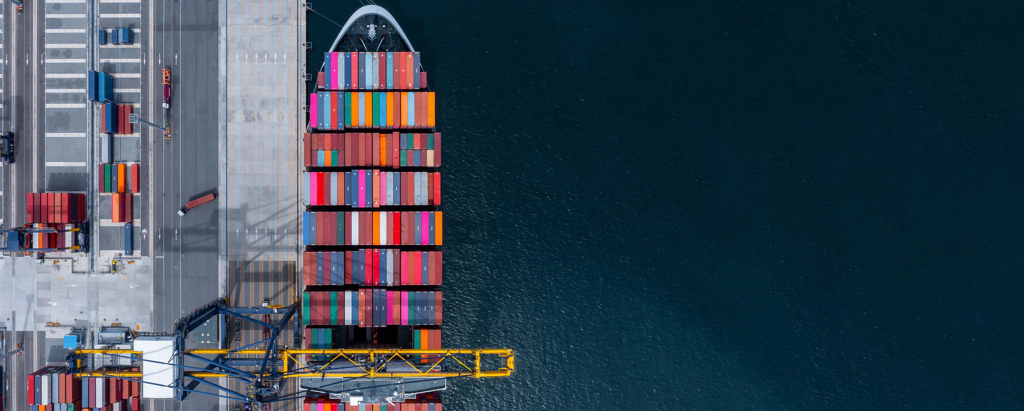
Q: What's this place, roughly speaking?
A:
port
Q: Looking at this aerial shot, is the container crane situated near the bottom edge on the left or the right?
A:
left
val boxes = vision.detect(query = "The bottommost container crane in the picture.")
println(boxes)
[66,285,519,411]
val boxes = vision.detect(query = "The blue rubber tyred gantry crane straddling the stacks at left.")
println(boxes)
[0,221,92,254]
